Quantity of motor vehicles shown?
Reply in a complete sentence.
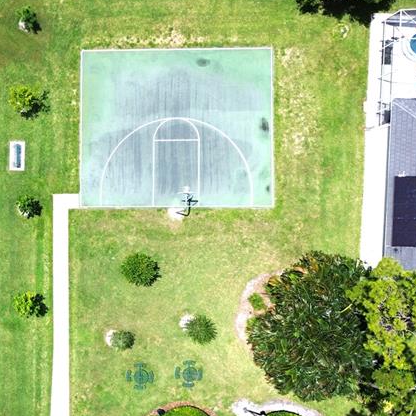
No motor vehicles are visible.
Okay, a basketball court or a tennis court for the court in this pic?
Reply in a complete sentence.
It turns out the court is a basketball court.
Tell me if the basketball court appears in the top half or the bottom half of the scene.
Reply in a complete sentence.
You can find the basketball court in the top half.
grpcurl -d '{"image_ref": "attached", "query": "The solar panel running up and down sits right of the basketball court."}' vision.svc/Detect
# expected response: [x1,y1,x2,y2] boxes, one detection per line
[393,175,416,247]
